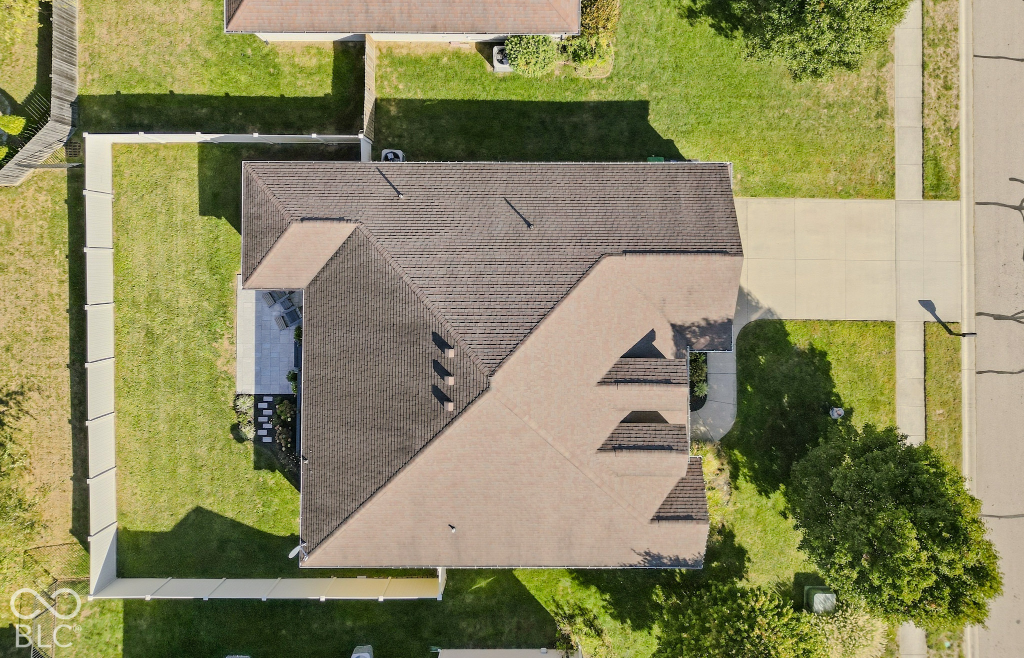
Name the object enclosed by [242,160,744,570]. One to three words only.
house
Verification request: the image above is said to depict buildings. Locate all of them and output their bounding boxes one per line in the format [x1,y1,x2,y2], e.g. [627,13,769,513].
[225,0,581,42]
[242,160,744,570]
[434,633,585,658]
